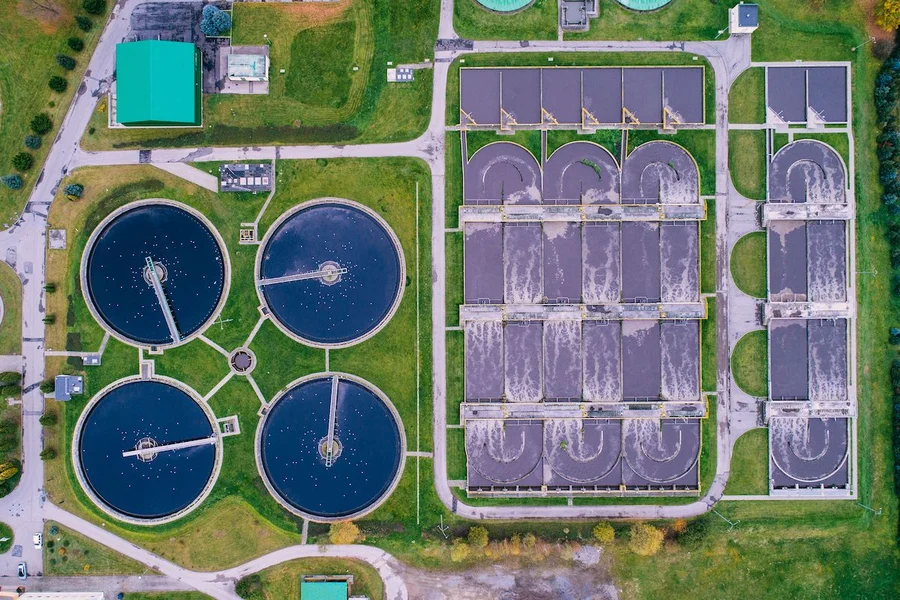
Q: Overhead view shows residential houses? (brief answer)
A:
Yes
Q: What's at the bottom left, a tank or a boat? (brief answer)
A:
tank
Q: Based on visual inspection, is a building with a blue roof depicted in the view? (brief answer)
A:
Yes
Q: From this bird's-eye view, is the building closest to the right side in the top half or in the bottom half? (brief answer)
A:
top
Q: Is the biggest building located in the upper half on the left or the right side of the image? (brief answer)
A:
left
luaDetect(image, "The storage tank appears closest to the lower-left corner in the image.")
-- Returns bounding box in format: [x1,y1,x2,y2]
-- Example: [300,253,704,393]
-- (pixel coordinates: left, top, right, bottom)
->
[72,375,223,524]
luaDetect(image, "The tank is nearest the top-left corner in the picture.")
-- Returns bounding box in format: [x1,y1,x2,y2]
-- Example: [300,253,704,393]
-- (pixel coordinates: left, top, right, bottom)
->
[81,199,232,349]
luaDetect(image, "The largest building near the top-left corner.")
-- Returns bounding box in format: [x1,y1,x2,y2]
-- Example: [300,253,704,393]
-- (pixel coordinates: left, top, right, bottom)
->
[116,40,200,126]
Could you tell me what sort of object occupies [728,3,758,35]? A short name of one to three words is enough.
building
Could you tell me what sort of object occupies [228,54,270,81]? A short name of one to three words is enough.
house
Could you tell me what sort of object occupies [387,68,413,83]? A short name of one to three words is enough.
building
